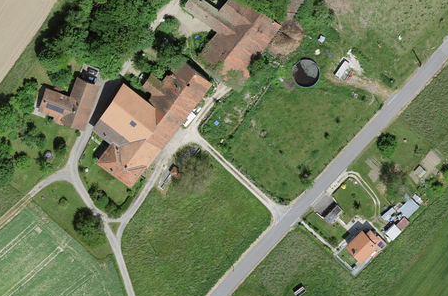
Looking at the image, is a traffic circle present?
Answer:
No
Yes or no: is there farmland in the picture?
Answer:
Yes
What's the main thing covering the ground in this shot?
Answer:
grass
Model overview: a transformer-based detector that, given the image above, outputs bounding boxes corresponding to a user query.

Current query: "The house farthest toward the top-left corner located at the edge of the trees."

[38,78,101,132]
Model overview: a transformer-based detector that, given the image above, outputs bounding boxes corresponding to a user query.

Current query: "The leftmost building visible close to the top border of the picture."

[185,0,280,80]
